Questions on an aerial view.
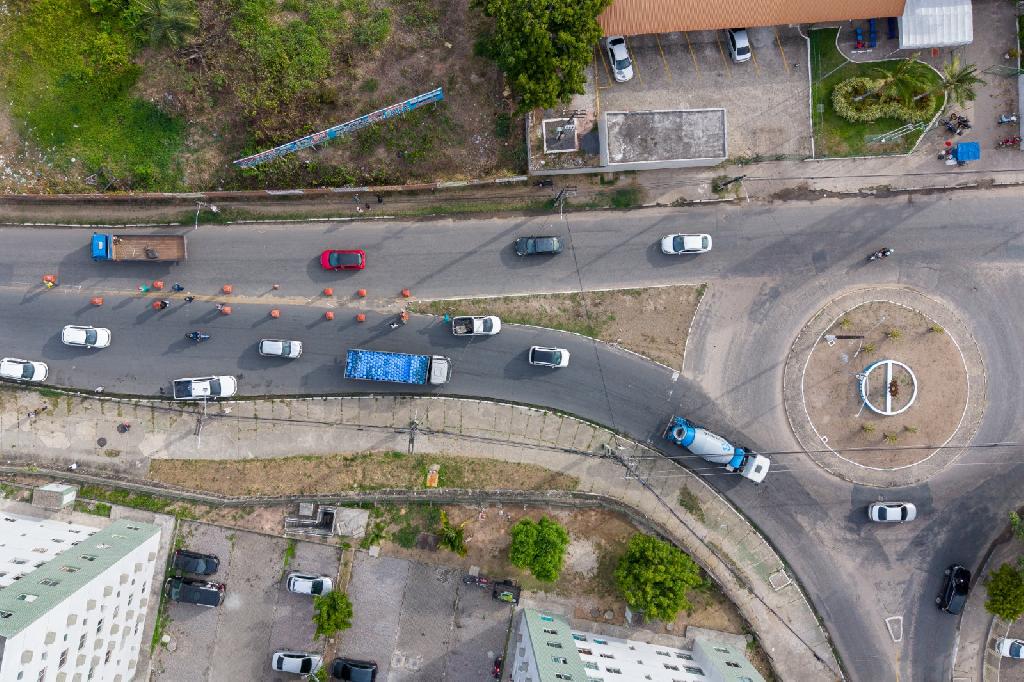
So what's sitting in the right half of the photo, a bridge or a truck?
truck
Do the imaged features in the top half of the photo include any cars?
Yes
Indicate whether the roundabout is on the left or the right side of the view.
right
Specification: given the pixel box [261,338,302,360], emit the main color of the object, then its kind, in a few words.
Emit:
white car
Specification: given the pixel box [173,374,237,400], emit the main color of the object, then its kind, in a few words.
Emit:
white truck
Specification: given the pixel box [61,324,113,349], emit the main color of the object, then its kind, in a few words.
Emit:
white car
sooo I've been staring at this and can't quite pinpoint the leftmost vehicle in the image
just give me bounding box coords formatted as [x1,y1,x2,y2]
[0,358,51,384]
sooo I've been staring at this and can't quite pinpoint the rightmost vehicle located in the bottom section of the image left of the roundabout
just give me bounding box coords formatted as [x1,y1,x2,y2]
[661,414,769,486]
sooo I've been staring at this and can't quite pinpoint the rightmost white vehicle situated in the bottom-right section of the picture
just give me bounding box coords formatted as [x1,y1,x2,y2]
[994,637,1024,660]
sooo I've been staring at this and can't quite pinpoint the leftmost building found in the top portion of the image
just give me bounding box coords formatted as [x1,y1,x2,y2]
[597,108,727,172]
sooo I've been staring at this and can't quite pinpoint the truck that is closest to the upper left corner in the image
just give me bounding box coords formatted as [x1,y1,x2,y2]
[92,231,189,265]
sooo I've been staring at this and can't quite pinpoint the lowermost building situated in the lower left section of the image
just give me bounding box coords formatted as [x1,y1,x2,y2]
[0,506,160,682]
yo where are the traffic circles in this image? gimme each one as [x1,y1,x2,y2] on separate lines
[802,300,972,470]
